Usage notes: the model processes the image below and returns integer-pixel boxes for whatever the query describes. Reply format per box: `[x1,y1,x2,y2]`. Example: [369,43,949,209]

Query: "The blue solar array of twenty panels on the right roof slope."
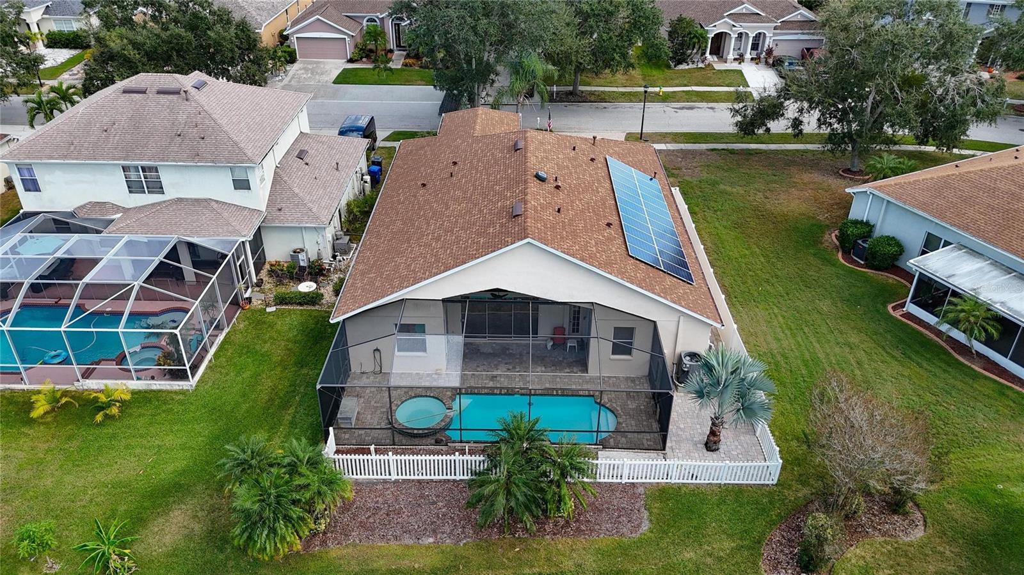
[607,153,699,282]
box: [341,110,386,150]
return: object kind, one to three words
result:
car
